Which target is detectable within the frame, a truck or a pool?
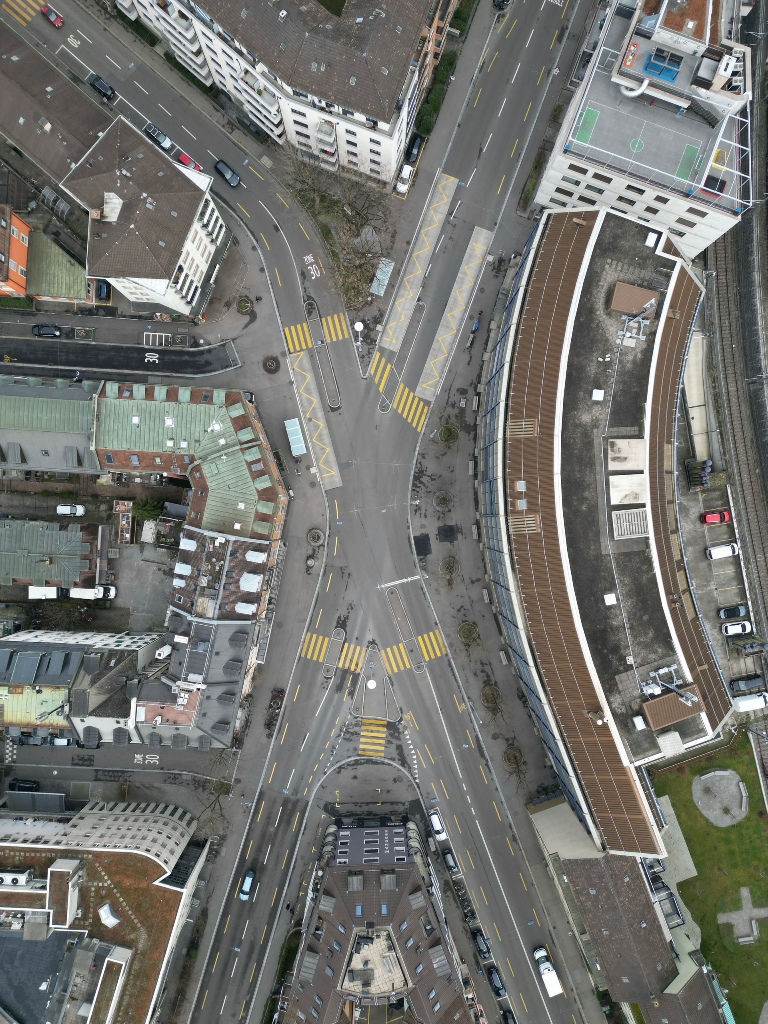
truck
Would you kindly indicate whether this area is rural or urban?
urban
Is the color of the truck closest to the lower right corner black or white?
white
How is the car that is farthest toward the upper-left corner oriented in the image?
diagonally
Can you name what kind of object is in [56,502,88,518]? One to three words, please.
car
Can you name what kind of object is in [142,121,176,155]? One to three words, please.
car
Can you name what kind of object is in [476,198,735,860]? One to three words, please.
building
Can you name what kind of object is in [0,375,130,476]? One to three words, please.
house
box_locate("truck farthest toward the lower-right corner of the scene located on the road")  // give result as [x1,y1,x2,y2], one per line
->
[533,944,565,1001]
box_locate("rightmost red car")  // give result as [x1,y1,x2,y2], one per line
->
[699,509,731,525]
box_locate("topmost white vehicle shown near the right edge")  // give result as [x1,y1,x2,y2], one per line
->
[703,541,739,559]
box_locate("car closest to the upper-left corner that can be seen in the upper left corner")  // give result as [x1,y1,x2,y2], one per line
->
[39,4,67,33]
